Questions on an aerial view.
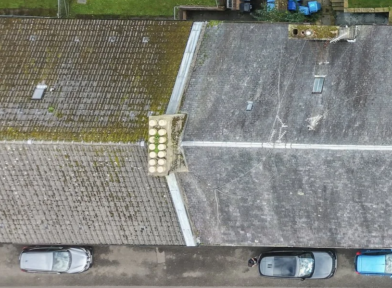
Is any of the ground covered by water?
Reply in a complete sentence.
No, there is no water in the image.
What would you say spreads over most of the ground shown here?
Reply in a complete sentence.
What you mostly see from above here is buildings.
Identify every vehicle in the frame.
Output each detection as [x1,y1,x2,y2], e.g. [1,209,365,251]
[259,248,337,286]
[19,246,96,279]
[356,249,392,281]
